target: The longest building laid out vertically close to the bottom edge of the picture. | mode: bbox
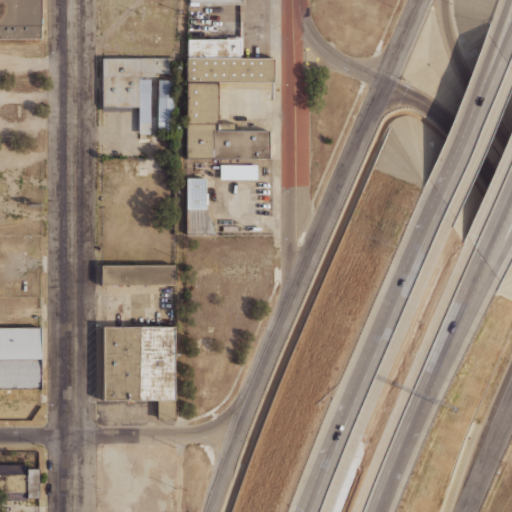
[28,470,40,498]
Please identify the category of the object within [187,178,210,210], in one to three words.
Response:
shed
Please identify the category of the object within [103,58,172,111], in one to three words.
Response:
building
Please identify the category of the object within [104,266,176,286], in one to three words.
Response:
building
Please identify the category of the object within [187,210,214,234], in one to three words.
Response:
shed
